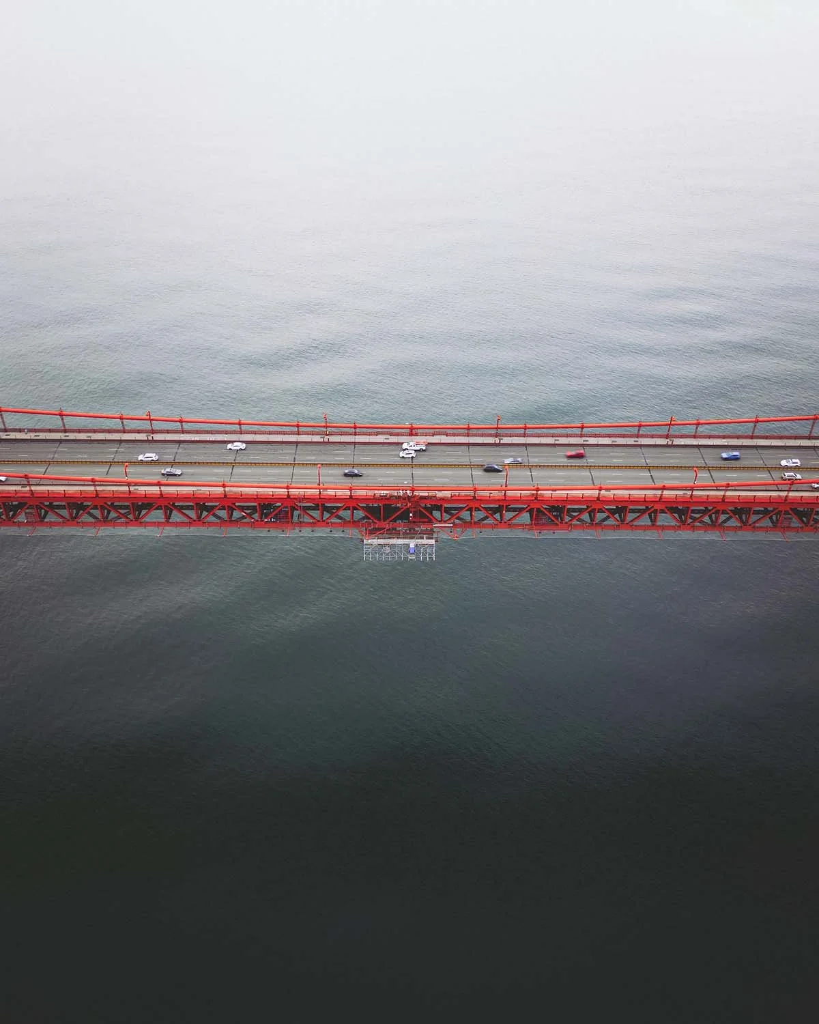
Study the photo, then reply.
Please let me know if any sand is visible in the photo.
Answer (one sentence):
No, no sand is visible.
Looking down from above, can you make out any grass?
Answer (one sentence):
No, the scene doesn't show any grass.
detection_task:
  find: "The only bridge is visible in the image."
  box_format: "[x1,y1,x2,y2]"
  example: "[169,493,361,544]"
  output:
[0,404,819,540]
